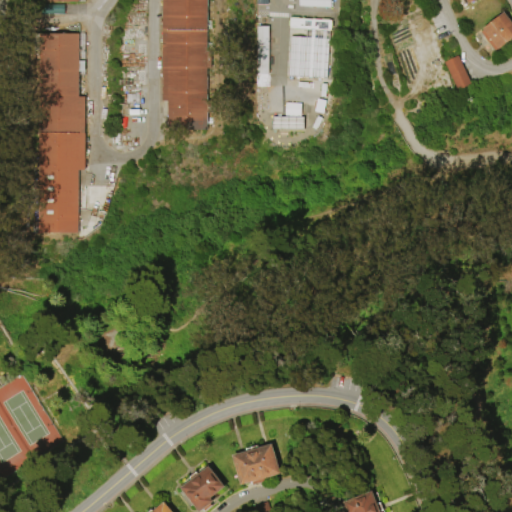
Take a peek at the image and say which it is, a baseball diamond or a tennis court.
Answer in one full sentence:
The image shows a tennis court.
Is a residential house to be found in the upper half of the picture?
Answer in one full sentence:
Yes, looking in the upper half of the picture, one can make out a residential house.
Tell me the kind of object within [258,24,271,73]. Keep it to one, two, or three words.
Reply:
building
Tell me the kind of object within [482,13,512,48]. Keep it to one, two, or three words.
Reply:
house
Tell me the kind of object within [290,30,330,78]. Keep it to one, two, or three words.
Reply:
greenhouse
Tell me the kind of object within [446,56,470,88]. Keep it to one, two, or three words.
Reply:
barn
